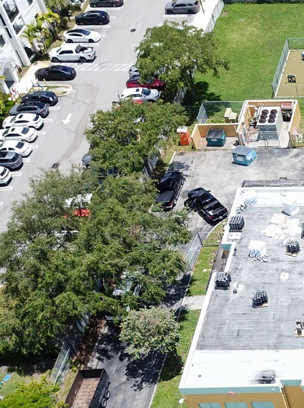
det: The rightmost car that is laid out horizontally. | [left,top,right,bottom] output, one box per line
[163,0,201,14]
